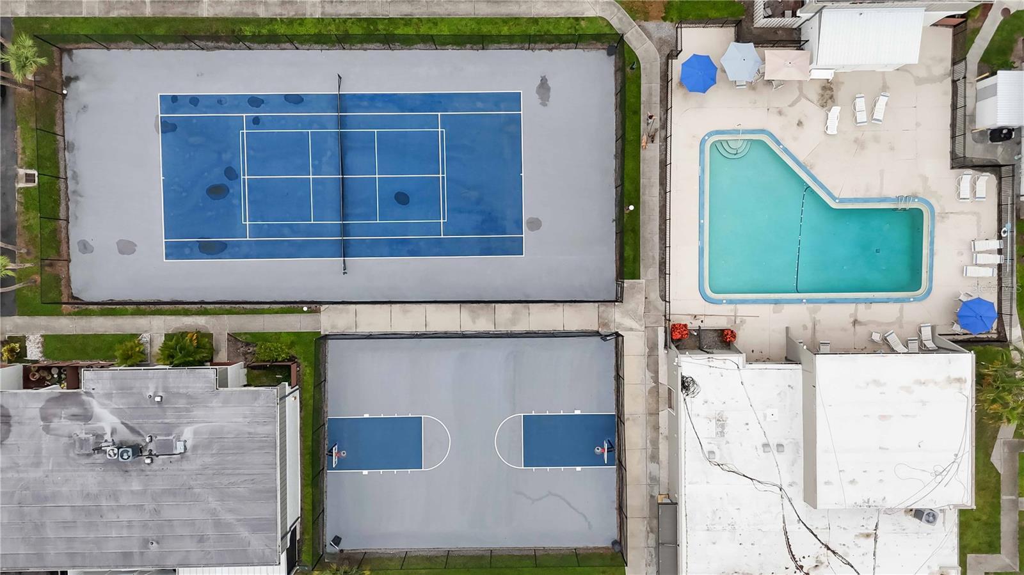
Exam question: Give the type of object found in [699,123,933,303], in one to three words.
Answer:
swimming pool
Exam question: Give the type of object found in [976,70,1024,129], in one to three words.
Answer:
shed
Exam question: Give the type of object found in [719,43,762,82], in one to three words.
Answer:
umbrella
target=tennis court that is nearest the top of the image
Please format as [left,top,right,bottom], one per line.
[62,50,619,299]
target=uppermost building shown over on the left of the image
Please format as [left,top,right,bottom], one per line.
[0,359,306,571]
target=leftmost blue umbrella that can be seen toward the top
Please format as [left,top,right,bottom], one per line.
[679,56,717,94]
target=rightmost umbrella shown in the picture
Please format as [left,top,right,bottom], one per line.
[954,295,994,335]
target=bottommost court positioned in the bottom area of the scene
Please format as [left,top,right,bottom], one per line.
[325,338,619,562]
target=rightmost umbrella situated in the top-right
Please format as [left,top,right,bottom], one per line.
[763,51,808,81]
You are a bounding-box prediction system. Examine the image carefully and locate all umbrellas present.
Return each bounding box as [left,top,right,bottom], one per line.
[719,43,762,82]
[679,56,717,94]
[763,51,808,81]
[954,295,994,335]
